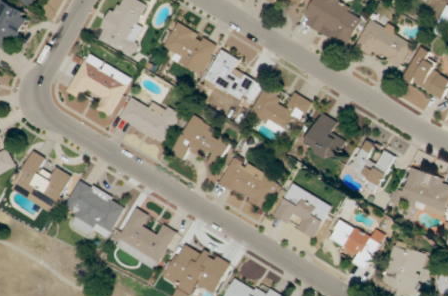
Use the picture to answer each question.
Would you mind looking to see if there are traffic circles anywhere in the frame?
No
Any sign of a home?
Yes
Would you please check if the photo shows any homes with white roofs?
Yes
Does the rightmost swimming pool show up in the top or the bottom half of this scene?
bottom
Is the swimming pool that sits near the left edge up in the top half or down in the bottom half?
bottom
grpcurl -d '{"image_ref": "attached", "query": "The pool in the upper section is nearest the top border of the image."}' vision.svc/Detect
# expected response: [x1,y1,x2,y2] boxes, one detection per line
[153,4,173,28]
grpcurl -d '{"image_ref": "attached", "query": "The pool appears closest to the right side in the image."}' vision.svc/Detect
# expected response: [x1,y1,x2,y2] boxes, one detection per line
[416,210,448,232]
